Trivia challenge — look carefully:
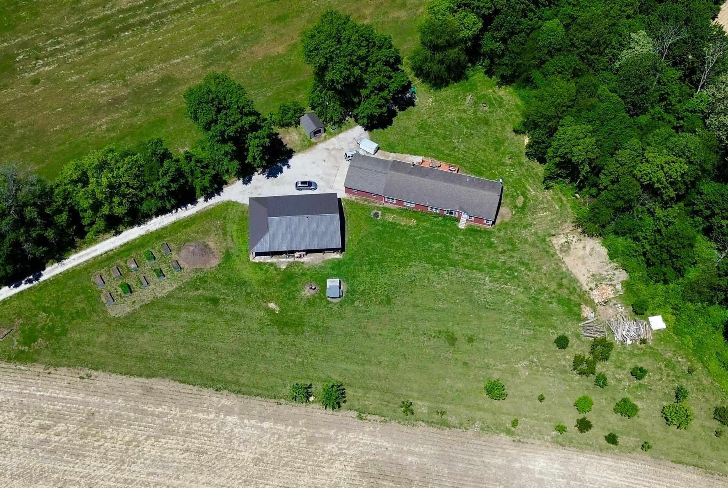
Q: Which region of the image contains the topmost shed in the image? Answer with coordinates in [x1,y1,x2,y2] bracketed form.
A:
[299,113,324,138]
